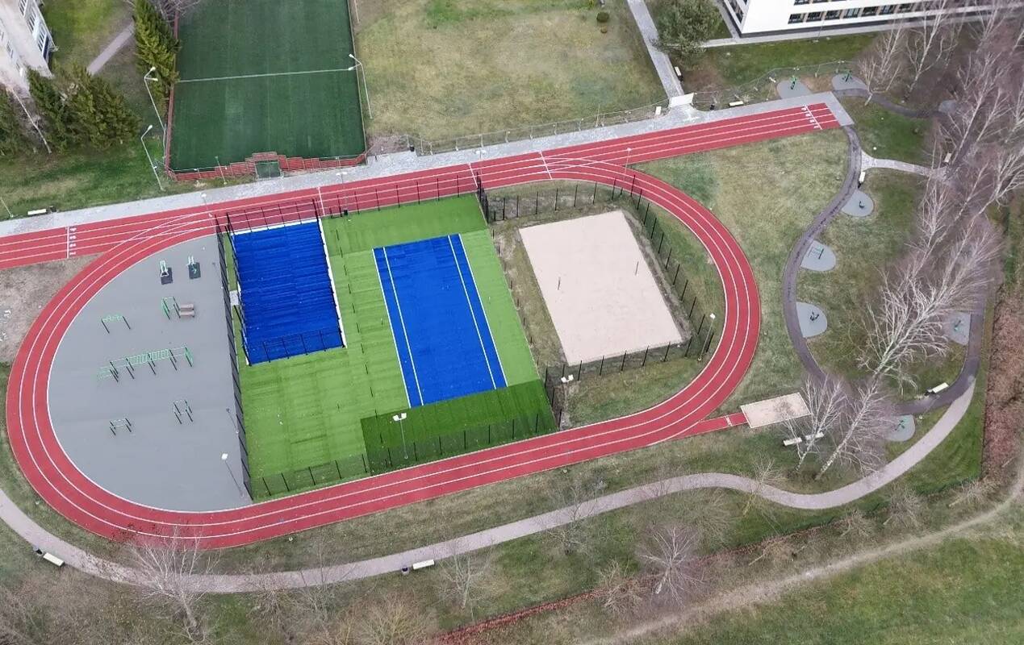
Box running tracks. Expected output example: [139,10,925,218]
[0,103,842,552]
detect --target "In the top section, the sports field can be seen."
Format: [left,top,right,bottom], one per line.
[167,0,365,173]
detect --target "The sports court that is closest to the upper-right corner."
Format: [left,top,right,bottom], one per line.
[518,210,683,366]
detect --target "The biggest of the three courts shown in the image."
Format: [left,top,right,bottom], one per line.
[220,192,557,502]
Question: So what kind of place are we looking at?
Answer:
sports ground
